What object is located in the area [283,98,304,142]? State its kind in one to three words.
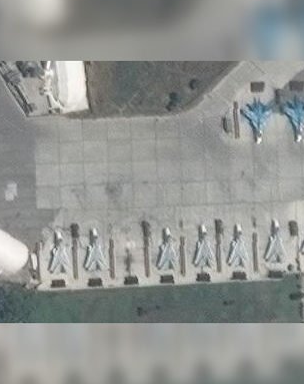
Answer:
airplane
